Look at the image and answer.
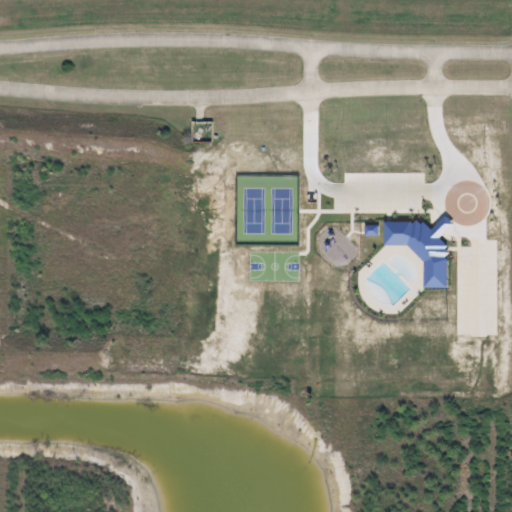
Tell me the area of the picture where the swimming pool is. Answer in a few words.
right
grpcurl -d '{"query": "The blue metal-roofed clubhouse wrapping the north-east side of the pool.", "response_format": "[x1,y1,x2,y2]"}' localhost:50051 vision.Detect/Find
[384,216,452,288]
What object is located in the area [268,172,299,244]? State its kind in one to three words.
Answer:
tennis court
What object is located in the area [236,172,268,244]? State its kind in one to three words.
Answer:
tennis court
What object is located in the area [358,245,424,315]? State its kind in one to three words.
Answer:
swimming pool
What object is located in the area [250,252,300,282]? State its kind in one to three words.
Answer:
basketball court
